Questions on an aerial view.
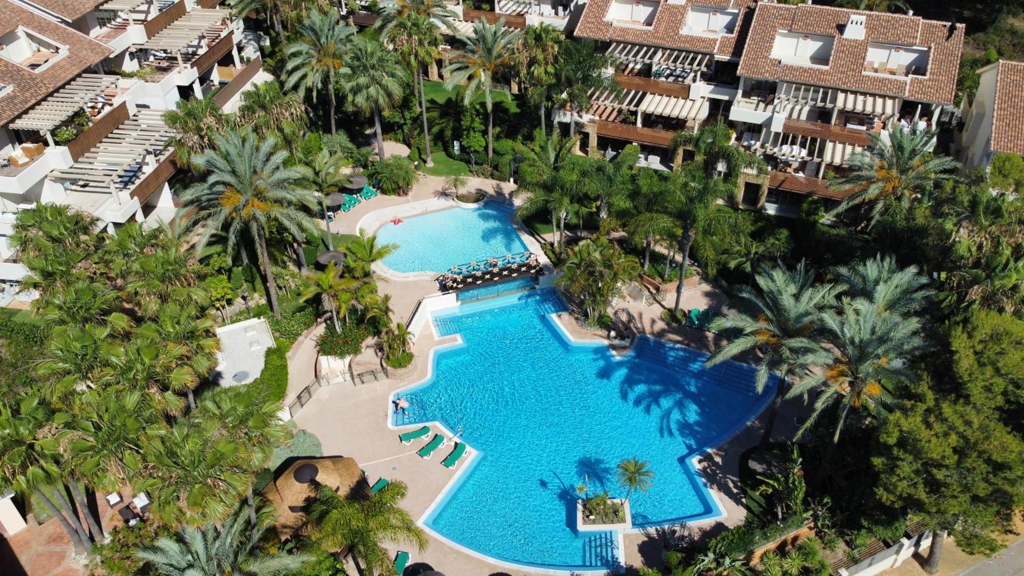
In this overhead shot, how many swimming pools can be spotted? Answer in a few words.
2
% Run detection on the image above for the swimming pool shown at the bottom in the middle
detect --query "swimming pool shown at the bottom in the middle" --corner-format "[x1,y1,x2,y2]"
[391,288,783,567]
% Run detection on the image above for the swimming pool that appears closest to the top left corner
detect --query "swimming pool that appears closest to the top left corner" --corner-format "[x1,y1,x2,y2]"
[376,199,536,303]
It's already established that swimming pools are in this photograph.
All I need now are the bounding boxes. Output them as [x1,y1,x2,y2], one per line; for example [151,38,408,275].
[376,199,536,303]
[391,288,783,567]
